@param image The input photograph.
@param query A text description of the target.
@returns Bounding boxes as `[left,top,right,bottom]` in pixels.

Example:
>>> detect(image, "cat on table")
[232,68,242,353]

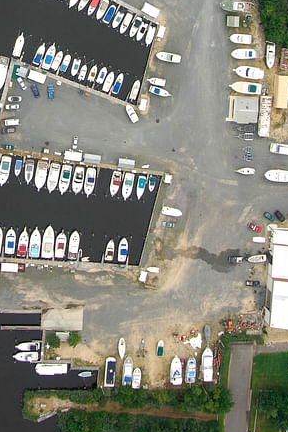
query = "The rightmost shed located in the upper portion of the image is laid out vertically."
[273,75,288,108]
